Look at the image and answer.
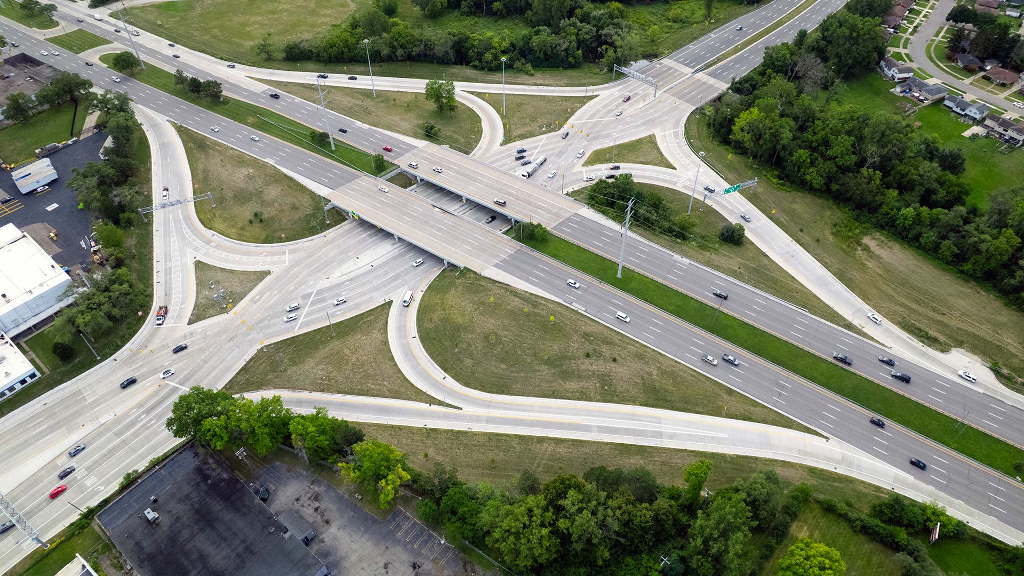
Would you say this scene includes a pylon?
Yes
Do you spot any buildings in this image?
Yes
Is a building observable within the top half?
Yes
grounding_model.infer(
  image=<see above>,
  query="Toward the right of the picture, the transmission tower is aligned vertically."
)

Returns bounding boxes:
[618,183,637,269]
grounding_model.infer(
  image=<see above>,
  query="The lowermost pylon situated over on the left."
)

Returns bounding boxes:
[311,66,333,142]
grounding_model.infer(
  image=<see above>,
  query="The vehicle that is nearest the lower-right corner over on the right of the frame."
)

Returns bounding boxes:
[908,457,927,470]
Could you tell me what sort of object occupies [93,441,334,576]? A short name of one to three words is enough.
warehouse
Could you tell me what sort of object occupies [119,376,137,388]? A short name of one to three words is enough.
vehicle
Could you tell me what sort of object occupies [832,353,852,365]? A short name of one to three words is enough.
vehicle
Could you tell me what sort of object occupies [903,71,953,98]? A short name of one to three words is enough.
house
